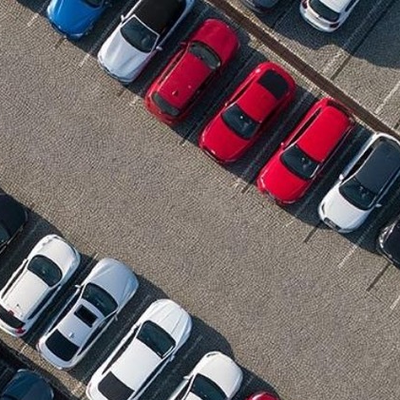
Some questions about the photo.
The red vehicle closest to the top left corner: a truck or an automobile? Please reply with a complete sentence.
It turns out the red vehicle closest to the top left corner is an automobile.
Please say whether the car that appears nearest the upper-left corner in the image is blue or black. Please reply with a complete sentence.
In this view, the car that appears nearest the upper-left corner is blue.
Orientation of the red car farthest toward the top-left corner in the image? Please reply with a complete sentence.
The red car farthest toward the top-left corner runs at an angle in the image.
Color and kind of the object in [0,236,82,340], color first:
white car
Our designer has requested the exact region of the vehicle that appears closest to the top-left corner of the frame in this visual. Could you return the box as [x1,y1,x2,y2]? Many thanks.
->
[51,0,115,39]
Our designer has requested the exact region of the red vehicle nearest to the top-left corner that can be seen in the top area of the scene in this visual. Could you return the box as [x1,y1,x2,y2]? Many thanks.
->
[142,20,240,127]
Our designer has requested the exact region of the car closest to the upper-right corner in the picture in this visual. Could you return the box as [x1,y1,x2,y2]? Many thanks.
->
[299,0,365,37]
